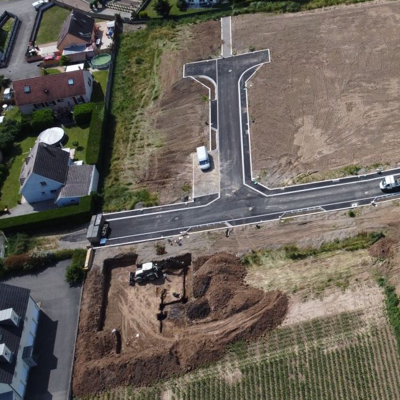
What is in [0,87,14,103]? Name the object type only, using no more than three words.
car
